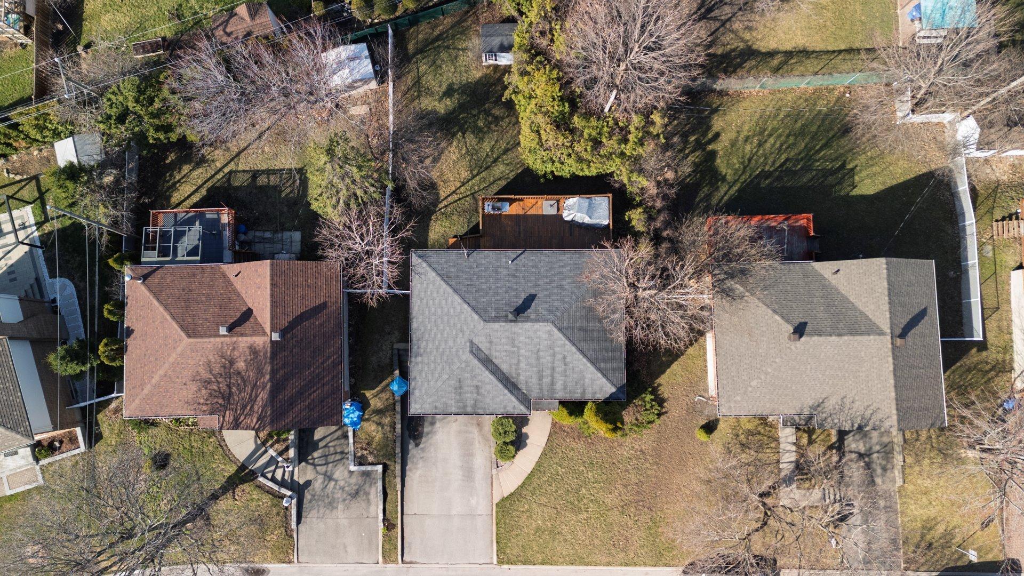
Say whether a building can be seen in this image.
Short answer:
Yes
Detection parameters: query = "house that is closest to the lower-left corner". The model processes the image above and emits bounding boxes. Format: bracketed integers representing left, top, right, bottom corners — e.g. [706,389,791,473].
[0,295,80,468]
